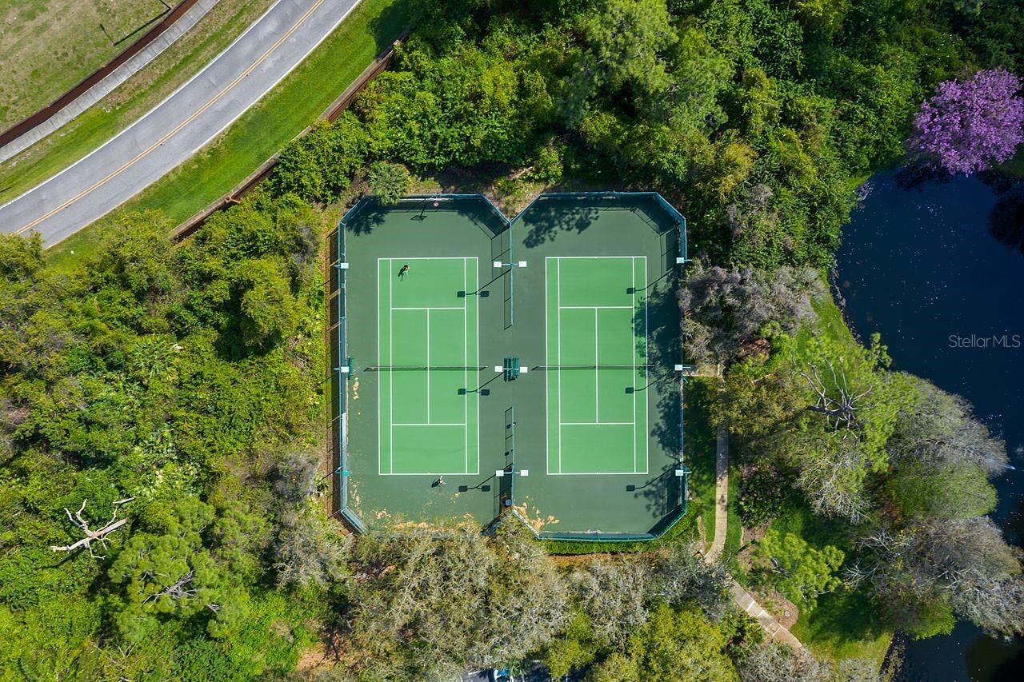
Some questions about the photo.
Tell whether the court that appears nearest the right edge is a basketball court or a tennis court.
tennis court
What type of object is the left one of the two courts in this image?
tennis court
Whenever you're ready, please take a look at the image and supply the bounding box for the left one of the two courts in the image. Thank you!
[346,200,512,526]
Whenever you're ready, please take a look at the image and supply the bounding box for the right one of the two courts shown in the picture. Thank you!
[510,198,680,534]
